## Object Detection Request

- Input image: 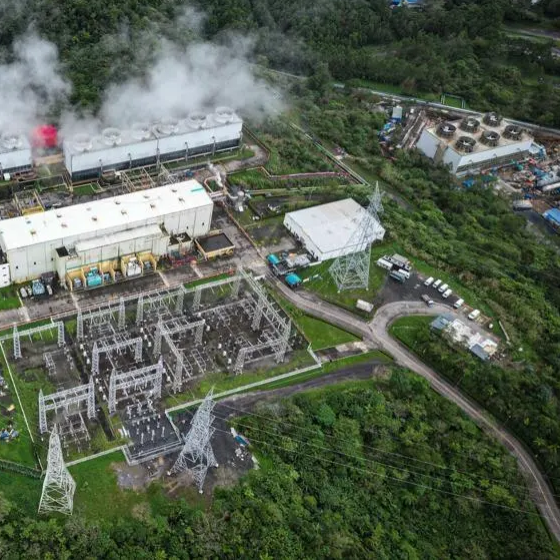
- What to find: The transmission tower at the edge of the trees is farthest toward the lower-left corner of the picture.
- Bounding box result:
[38,424,76,518]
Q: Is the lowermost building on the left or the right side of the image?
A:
right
